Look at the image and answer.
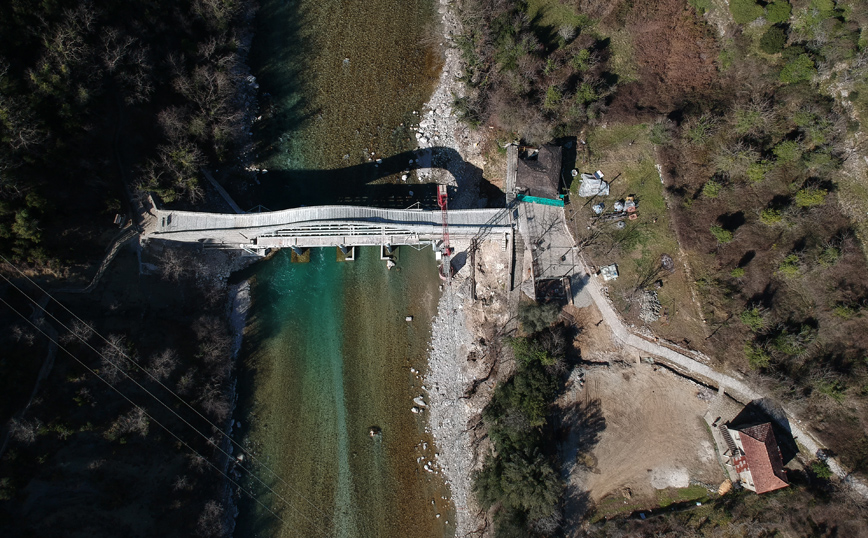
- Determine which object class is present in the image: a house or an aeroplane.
house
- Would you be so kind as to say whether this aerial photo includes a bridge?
Yes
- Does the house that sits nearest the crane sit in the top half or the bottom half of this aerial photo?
top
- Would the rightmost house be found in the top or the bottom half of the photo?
bottom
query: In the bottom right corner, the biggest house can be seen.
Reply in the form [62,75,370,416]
[717,421,790,494]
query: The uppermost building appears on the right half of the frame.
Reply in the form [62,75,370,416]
[516,146,561,202]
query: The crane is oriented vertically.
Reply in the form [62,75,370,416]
[437,186,459,391]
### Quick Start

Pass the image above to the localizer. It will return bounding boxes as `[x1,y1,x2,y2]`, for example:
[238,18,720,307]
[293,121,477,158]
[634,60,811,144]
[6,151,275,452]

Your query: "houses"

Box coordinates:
[516,146,561,202]
[717,421,790,494]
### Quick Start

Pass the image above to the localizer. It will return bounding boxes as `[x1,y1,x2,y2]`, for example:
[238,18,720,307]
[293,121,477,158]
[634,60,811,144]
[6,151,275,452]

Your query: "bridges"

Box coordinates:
[142,205,514,244]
